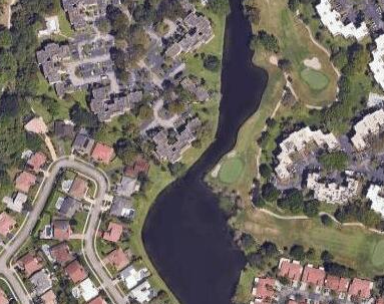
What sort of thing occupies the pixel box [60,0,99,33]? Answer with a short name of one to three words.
building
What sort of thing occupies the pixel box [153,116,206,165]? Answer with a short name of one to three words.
building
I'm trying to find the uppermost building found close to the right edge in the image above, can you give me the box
[316,0,368,41]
